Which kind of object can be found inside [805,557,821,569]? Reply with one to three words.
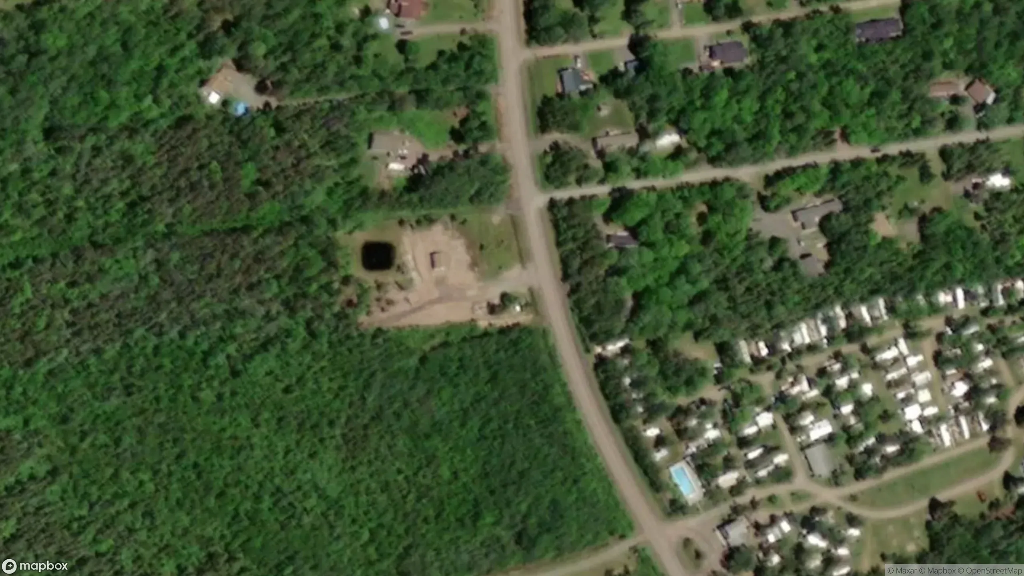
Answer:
vehicle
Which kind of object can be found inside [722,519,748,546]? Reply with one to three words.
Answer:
building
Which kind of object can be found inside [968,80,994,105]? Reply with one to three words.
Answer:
house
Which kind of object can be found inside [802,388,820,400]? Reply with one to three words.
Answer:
vehicle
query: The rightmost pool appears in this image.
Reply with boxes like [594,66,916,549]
[670,461,703,504]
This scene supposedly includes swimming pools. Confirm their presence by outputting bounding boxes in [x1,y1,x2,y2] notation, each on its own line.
[670,461,703,504]
[235,102,247,114]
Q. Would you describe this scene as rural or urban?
rural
